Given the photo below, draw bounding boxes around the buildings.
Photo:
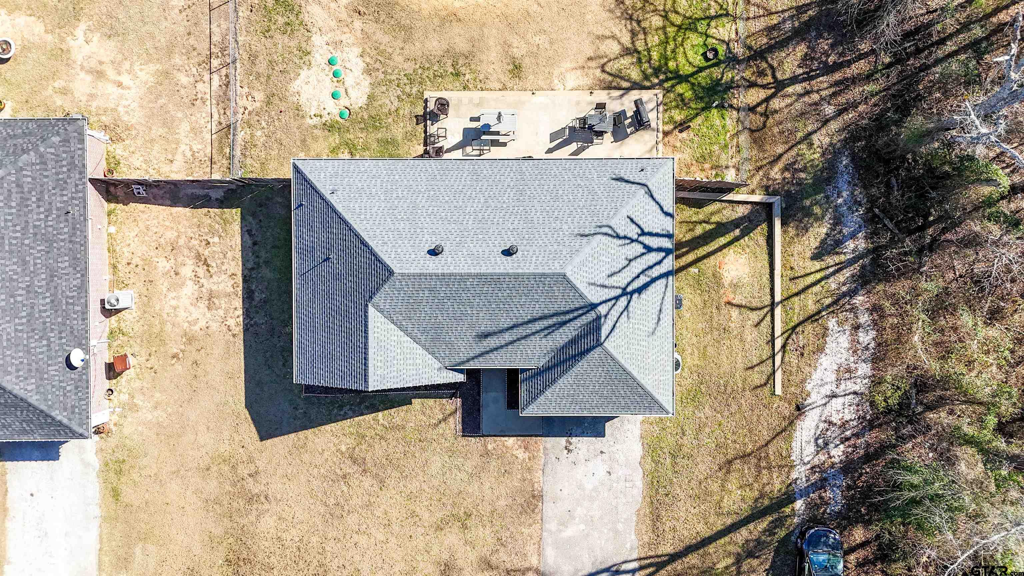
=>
[0,113,114,444]
[292,157,676,417]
